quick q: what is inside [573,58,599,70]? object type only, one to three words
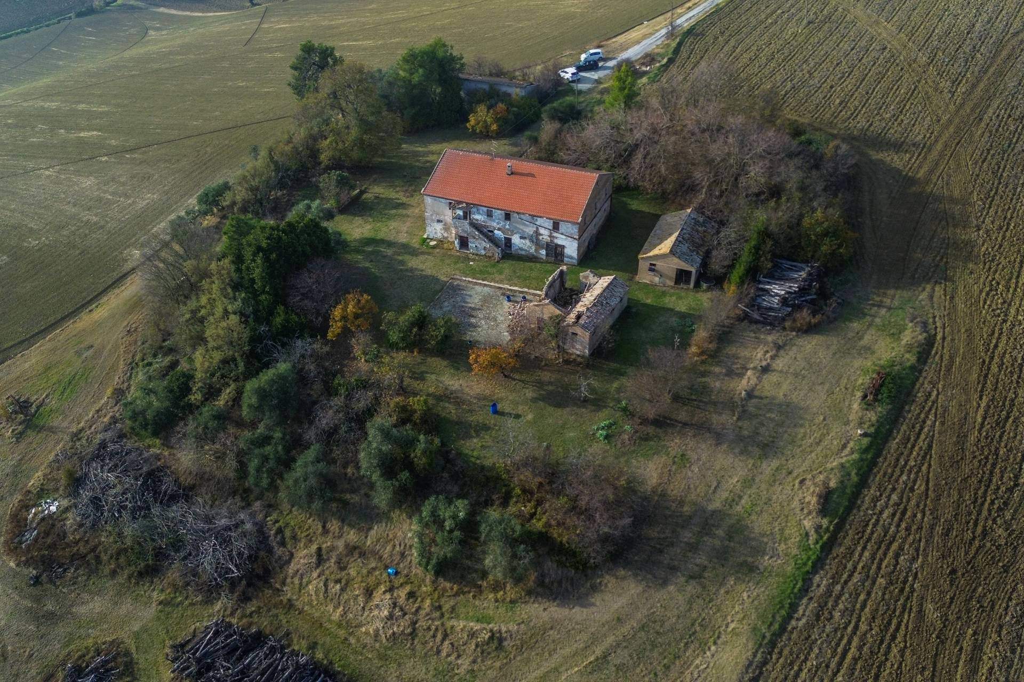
vehicle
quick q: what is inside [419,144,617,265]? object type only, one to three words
house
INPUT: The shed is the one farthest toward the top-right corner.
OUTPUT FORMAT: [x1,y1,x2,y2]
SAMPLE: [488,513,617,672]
[636,206,713,291]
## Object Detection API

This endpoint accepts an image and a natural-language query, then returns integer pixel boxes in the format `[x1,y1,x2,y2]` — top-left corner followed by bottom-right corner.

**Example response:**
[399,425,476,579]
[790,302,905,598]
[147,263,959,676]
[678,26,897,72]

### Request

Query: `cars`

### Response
[573,58,599,70]
[558,69,582,81]
[581,48,605,59]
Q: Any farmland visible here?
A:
Yes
